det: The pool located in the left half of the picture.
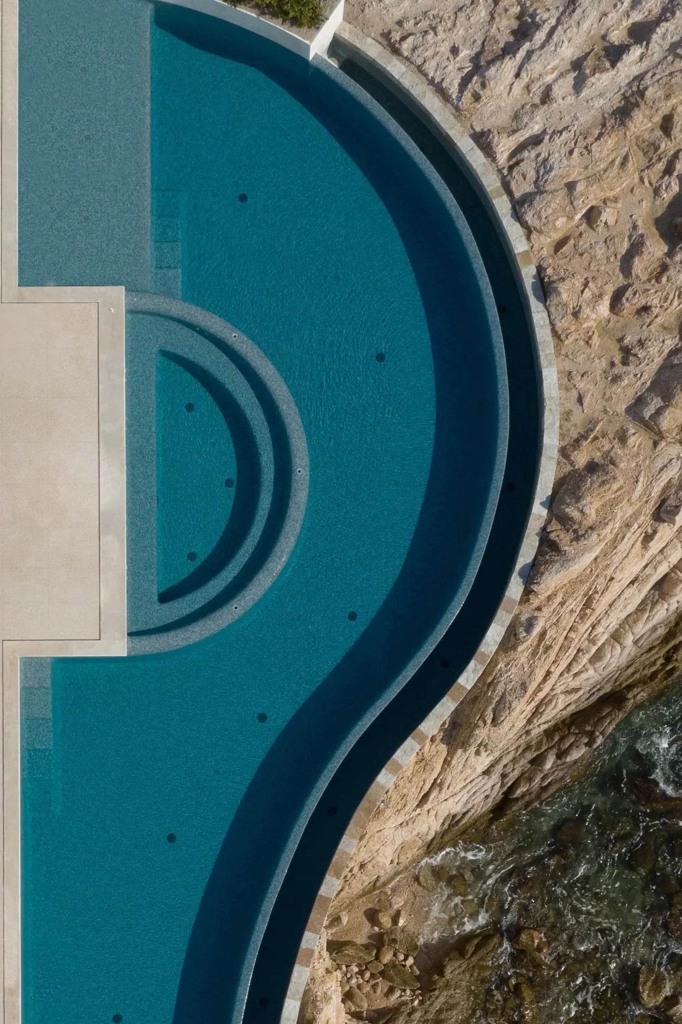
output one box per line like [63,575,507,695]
[2,0,509,1024]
